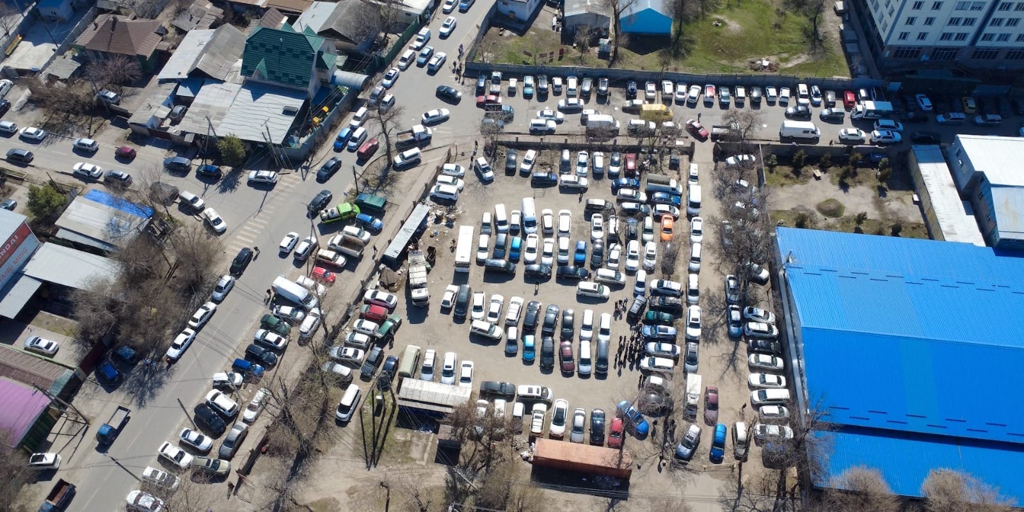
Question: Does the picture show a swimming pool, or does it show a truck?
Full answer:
Looking from above, you can make out a truck.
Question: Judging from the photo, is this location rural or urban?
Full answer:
This place is urban.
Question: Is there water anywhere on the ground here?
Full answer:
No, there's no water in this view.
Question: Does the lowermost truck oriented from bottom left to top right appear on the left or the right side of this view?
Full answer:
The lowermost truck oriented from bottom left to top right appears in the left half of the scene.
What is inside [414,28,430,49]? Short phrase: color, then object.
white vehicle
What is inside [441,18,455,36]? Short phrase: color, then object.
white car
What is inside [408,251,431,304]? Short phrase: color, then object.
white truck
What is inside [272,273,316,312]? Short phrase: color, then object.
white van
